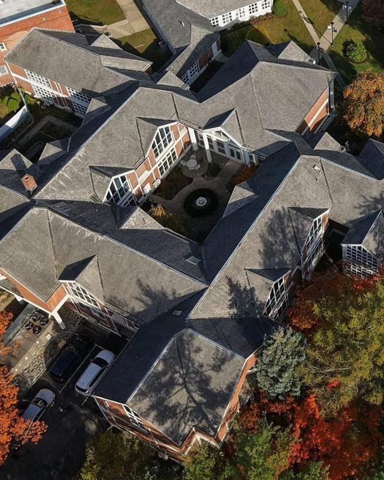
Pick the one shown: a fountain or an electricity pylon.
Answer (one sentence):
This aerial view contains a fountain.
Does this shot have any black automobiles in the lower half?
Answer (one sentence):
Yes, a black automobile can be seen in the lower half.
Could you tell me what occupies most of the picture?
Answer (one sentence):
For the most part, this view shows buildings.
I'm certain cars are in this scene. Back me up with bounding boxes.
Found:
[71,350,117,398]
[44,341,88,387]
[13,391,55,439]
